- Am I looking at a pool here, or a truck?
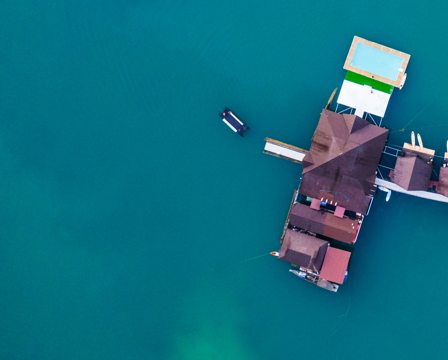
pool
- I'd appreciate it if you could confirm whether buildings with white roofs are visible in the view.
No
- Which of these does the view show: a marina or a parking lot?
marina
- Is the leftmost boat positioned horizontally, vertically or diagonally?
diagonally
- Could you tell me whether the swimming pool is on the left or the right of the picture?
right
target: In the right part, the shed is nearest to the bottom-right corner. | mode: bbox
[320,246,351,284]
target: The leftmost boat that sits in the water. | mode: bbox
[218,106,250,137]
